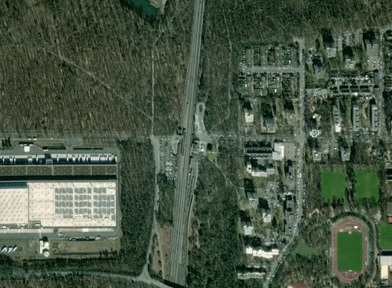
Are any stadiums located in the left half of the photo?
No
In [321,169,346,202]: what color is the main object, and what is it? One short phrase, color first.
green soccer field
